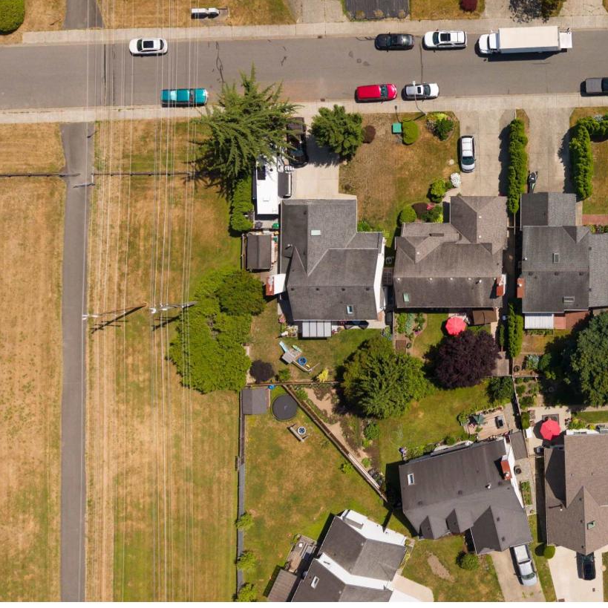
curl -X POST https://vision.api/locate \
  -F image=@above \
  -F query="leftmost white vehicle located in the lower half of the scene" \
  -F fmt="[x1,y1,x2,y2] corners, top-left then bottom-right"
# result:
[514,548,536,587]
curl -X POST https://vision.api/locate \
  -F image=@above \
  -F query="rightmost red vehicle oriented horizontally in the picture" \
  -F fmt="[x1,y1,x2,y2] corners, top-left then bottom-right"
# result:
[356,84,397,102]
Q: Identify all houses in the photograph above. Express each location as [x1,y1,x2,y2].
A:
[265,198,388,323]
[389,196,509,309]
[516,193,608,314]
[544,426,608,563]
[399,435,536,562]
[261,506,411,608]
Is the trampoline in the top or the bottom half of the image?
bottom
